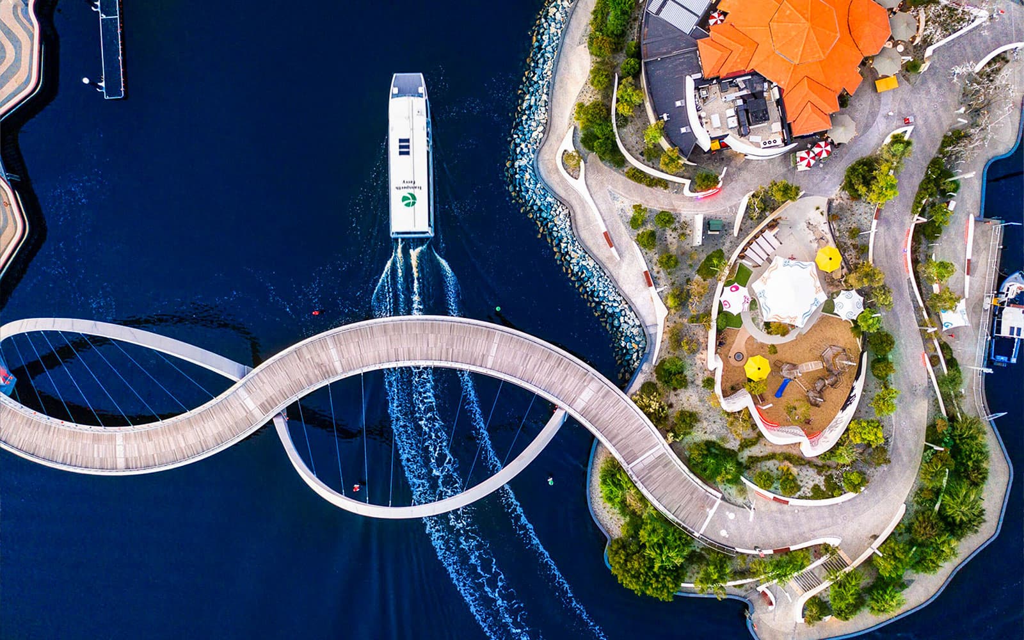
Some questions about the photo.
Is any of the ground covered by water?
Yes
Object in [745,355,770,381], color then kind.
yellow umbrella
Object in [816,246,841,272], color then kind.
yellow umbrella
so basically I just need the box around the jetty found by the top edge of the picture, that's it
[97,0,127,99]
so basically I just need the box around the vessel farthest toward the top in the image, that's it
[389,72,435,239]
